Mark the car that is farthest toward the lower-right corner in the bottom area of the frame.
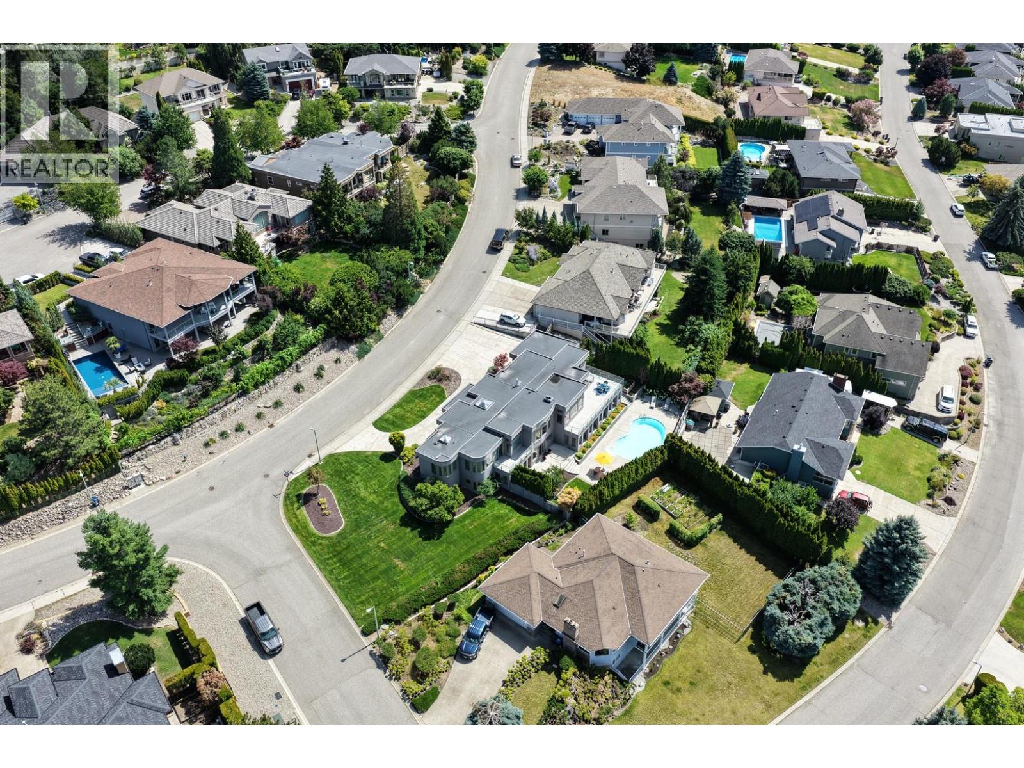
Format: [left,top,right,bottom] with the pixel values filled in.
[834,489,877,514]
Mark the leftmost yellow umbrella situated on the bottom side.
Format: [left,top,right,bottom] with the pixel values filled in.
[594,452,615,472]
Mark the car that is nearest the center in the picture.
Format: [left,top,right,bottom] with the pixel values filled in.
[495,307,529,330]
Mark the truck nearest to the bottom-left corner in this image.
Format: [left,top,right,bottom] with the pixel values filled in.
[240,600,282,653]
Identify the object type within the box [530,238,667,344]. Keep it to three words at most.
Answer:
house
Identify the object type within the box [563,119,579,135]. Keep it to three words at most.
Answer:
vehicle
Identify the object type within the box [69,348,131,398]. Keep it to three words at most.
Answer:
swimming pool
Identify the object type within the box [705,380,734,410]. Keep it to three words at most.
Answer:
gazebo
